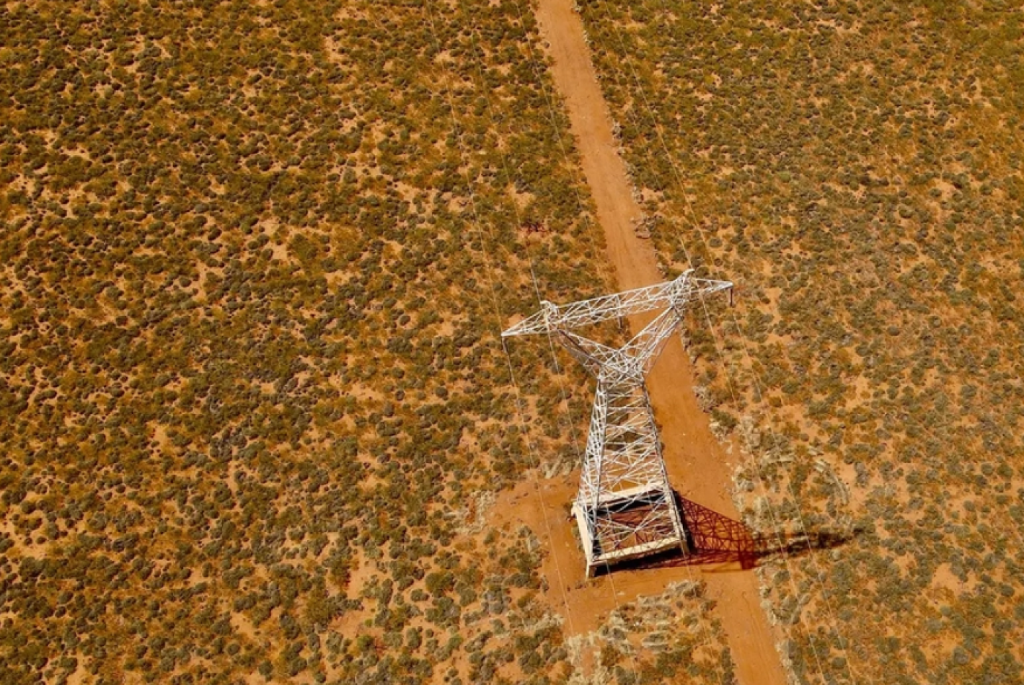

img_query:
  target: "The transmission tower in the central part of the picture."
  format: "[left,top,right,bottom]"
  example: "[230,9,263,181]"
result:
[501,268,735,563]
